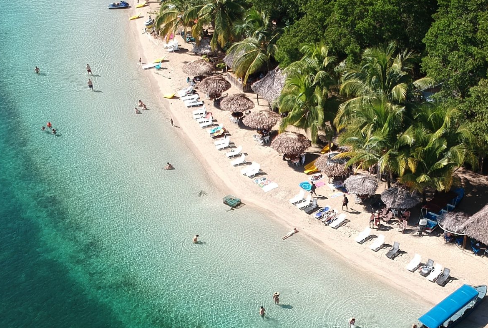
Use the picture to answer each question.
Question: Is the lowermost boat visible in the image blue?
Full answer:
Yes, the lowermost boat is indeed blue.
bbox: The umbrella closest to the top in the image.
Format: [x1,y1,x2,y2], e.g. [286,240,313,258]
[189,32,221,61]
